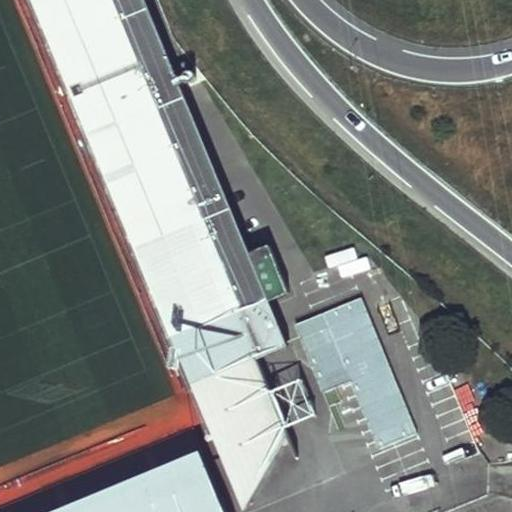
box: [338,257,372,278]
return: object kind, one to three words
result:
building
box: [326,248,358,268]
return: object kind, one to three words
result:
building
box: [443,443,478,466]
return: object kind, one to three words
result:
vehicle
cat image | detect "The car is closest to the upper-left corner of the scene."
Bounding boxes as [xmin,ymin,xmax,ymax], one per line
[226,190,245,204]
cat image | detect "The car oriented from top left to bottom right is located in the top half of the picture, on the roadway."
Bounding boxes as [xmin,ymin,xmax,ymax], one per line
[345,110,366,130]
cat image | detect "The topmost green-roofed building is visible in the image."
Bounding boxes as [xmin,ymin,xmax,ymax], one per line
[250,246,286,300]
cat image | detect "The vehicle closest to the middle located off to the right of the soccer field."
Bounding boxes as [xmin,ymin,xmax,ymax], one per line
[239,218,260,232]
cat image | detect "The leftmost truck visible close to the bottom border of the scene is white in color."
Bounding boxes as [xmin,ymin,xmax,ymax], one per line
[390,474,437,498]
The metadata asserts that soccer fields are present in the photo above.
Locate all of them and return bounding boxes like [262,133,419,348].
[0,0,174,467]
